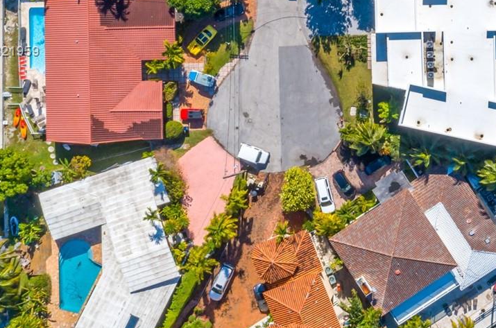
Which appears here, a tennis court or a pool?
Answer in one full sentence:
I can see a pool in this picture.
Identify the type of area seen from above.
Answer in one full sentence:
What you see here is a residential area.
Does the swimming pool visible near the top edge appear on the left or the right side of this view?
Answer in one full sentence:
The swimming pool visible near the top edge sits on the left side.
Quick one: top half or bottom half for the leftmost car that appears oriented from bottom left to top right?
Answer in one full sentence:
Seen from above, the leftmost car that appears oriented from bottom left to top right lies in the top half of the view.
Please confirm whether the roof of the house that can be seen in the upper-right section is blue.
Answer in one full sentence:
No, the roof of the house that can be seen in the upper-right section is white.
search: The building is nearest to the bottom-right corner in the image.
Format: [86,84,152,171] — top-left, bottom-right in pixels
[329,170,496,326]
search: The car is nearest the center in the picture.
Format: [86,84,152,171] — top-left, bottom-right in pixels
[235,142,272,167]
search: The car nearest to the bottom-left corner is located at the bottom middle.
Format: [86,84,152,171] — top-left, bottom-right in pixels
[210,263,235,300]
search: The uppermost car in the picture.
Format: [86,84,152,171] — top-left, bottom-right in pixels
[213,3,247,22]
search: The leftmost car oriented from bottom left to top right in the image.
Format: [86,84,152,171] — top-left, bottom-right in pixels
[188,23,217,57]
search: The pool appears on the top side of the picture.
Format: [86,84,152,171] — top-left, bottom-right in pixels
[26,5,47,77]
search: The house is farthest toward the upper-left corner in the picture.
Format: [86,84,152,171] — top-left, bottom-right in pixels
[45,0,178,144]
